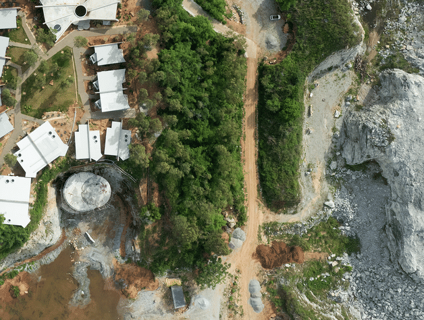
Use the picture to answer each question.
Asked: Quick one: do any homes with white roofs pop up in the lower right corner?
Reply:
No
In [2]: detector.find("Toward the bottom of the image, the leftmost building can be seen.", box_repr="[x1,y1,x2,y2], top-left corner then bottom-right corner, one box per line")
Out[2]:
[0,174,34,228]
